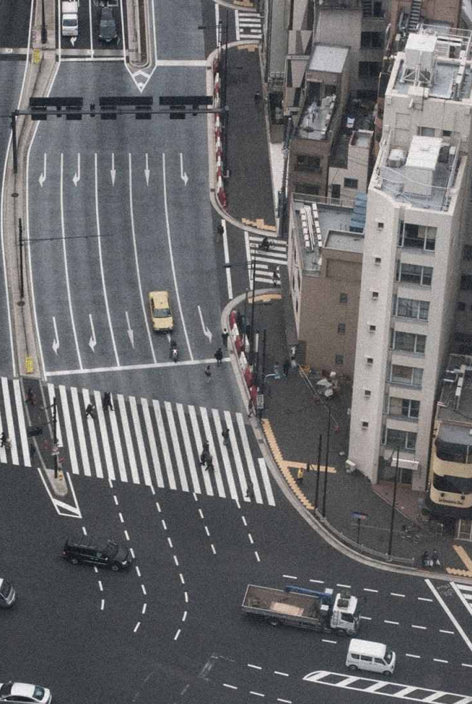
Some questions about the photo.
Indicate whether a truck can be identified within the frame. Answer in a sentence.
Yes, a truck appears in the view.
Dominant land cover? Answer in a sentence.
For the most part, this view shows paved ground.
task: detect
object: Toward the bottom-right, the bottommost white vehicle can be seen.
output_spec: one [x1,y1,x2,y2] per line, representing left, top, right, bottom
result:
[344,637,397,675]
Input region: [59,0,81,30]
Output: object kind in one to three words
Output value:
truck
